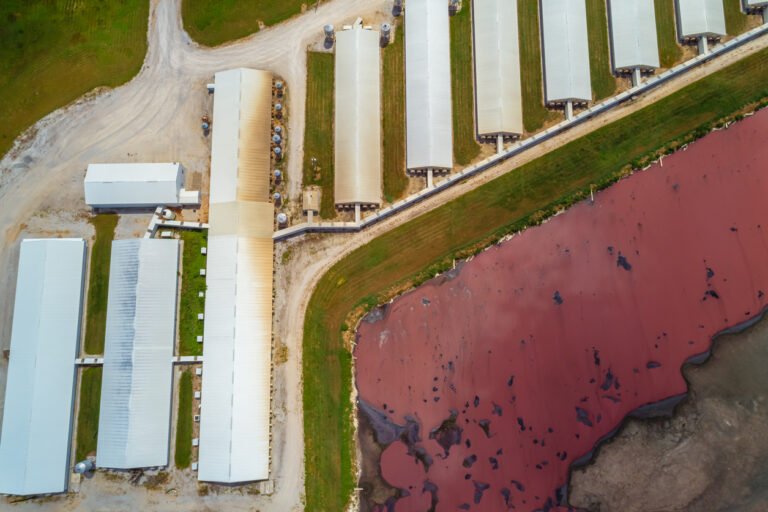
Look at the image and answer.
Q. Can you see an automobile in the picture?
No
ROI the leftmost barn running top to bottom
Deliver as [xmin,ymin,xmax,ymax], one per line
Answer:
[0,238,91,495]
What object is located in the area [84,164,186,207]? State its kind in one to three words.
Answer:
shed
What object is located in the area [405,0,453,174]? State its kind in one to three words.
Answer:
barn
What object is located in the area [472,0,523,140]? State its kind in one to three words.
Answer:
barn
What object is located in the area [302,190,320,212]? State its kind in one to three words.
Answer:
shed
